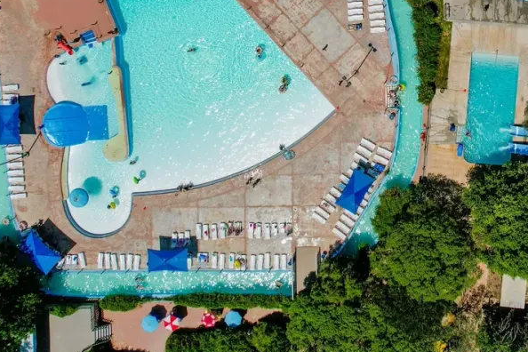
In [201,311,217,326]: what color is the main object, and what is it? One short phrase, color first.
red umbrella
